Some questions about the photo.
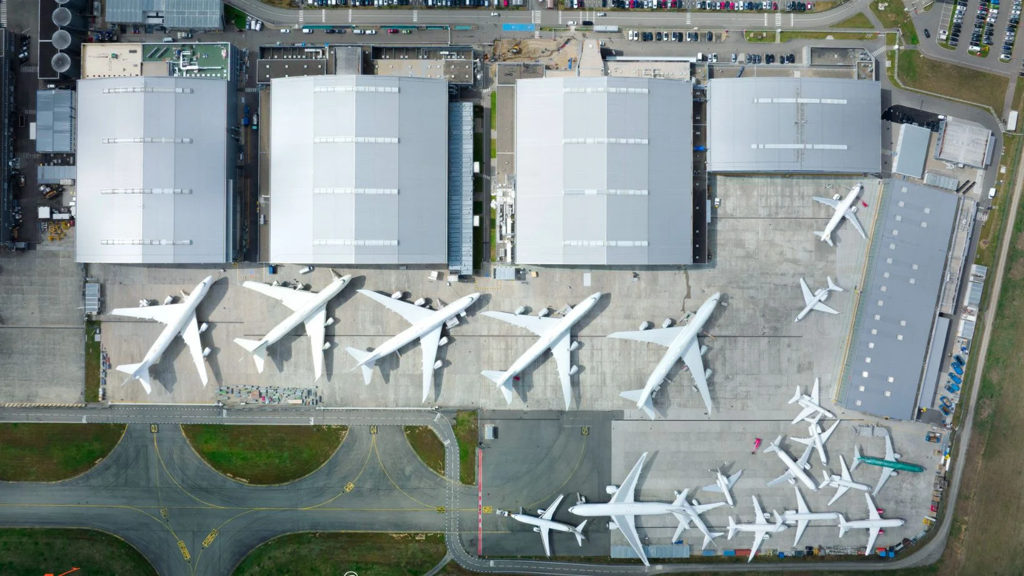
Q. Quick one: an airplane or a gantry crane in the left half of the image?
airplane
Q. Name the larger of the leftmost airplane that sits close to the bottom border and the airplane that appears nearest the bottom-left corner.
the airplane that appears nearest the bottom-left corner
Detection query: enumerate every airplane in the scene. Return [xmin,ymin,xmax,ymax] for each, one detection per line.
[794,277,841,322]
[776,490,841,546]
[605,292,720,423]
[232,274,351,378]
[728,497,788,562]
[812,183,867,247]
[795,418,842,465]
[478,292,601,412]
[838,494,905,557]
[511,498,585,563]
[853,431,924,496]
[824,459,870,506]
[790,379,836,424]
[703,468,741,508]
[568,455,692,569]
[764,437,816,491]
[105,276,212,394]
[342,289,480,405]
[673,490,725,546]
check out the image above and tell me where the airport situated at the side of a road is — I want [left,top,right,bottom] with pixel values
[0,174,954,576]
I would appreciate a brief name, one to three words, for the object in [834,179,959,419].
hangar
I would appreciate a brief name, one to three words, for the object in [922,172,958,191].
shed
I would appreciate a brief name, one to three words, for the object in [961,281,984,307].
building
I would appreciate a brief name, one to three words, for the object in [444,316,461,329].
vehicle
